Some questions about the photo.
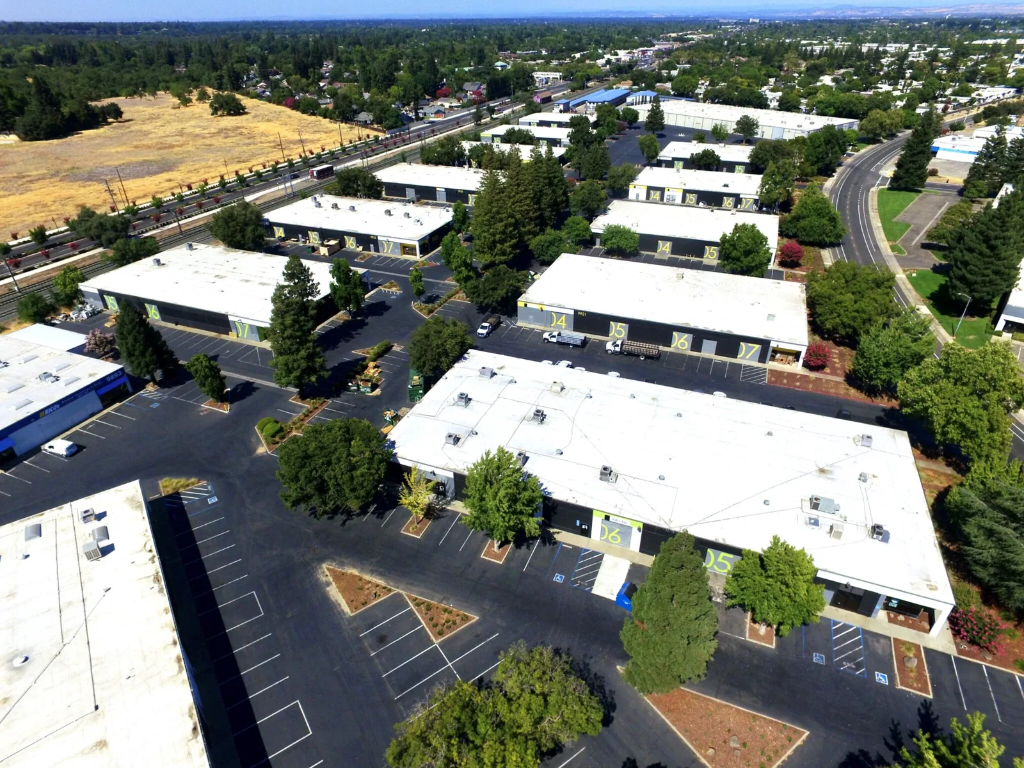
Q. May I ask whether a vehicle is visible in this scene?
Yes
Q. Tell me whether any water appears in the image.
No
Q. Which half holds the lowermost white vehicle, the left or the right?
left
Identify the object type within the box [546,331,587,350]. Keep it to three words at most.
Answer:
vehicle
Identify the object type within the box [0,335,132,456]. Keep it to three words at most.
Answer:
building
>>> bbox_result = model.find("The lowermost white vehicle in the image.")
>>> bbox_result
[37,432,76,455]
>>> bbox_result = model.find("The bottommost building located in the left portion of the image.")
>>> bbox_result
[0,480,215,768]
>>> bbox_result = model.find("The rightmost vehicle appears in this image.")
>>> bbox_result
[832,408,853,420]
